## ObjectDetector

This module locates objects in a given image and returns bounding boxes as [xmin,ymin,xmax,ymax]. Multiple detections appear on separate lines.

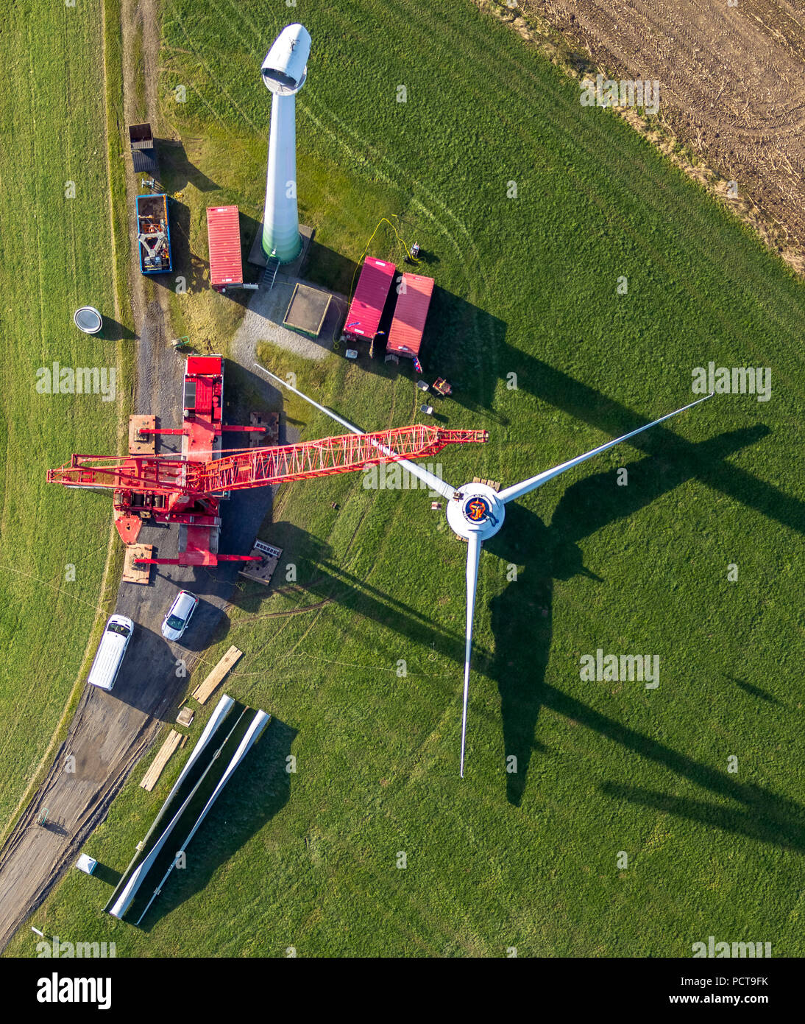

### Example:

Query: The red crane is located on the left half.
[47,349,491,569]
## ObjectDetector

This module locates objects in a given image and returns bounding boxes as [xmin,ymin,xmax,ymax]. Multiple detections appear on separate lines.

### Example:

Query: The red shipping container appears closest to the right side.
[386,272,435,361]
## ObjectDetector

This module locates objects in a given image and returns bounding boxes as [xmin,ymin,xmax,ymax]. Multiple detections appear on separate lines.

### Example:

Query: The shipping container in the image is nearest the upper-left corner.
[129,122,157,173]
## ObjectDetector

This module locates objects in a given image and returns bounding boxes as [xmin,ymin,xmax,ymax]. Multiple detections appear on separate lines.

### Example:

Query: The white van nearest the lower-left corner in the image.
[89,615,133,691]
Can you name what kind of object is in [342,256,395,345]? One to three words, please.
shipping container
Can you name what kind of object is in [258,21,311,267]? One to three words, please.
wind turbine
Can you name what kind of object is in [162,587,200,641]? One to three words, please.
car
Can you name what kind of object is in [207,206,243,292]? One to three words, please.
shipping container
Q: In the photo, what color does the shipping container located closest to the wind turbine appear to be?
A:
red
